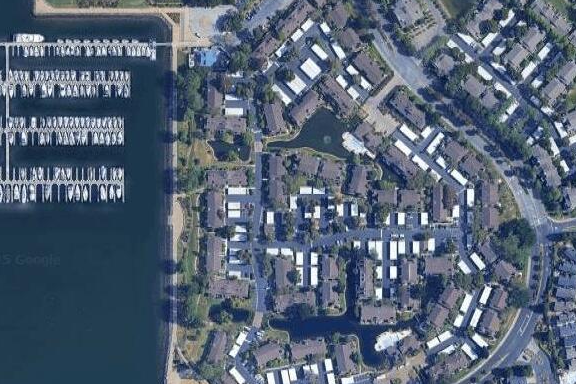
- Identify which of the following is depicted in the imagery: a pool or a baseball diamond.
pool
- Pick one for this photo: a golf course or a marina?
marina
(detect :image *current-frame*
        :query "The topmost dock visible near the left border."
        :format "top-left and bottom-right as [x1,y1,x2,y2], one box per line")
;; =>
[0,43,169,56]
